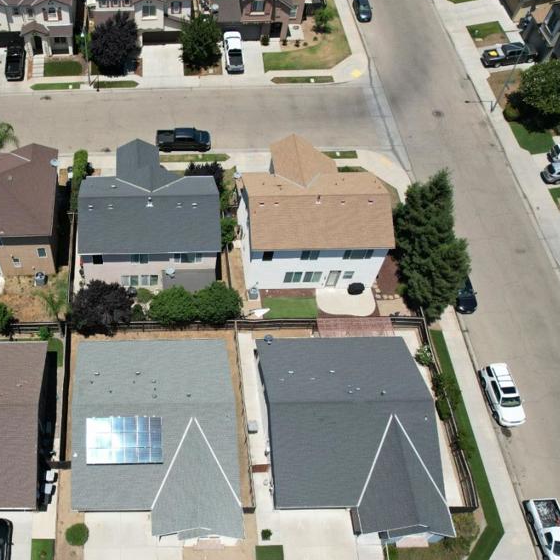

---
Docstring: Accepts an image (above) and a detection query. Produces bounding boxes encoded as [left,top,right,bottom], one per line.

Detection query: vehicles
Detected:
[544,141,560,162]
[524,498,560,560]
[350,0,373,23]
[0,519,13,560]
[156,129,210,153]
[475,43,532,67]
[3,48,26,80]
[450,266,481,312]
[478,365,525,429]
[539,161,560,185]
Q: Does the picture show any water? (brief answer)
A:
No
